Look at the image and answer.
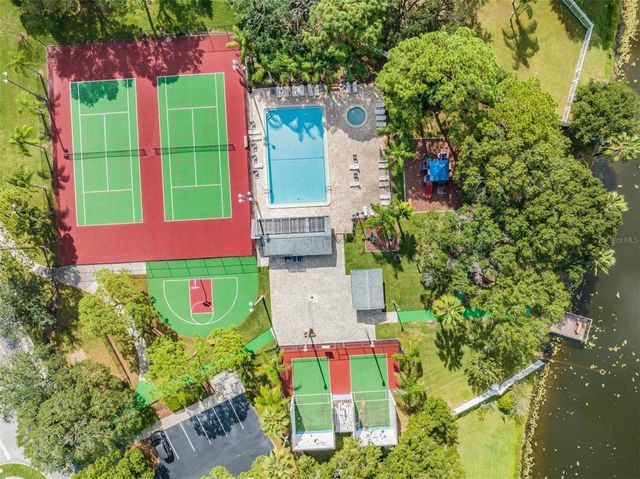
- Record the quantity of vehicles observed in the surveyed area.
1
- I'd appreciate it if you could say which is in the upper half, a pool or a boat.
pool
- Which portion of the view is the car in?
bottom left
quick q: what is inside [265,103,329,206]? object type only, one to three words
swimming pool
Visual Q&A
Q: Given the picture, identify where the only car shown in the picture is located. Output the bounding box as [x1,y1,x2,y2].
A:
[151,434,171,465]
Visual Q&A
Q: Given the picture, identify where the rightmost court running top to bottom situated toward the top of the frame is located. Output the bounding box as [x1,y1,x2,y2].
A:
[150,34,254,262]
